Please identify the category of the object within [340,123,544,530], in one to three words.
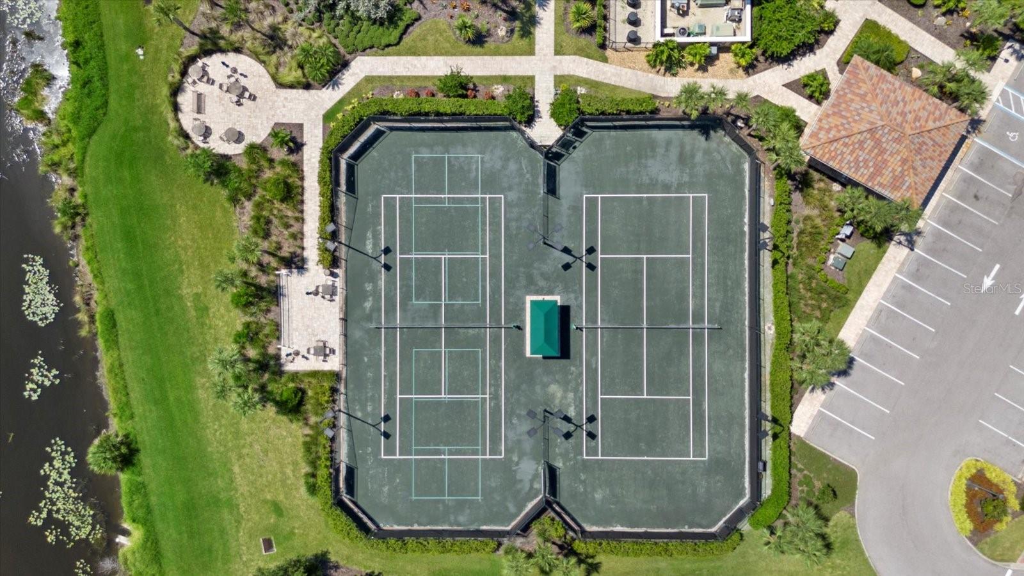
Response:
tennis court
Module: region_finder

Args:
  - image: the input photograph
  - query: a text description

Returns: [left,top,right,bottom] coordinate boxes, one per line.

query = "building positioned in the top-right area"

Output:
[793,54,971,211]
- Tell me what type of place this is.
sports ground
